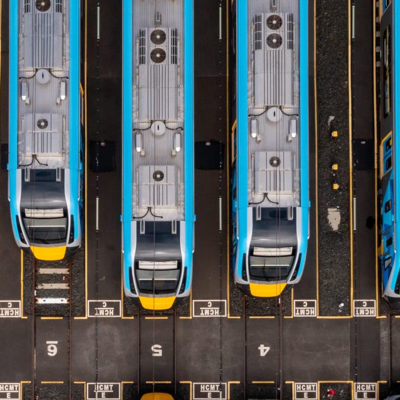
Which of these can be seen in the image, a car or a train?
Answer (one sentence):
Visible in the photo is a train.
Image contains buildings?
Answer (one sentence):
No, I find no building anywhere in the image.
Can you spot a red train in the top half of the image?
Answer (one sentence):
No, there's no red train to be seen in the top half of the image.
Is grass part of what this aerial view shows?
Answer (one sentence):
No, there's no grass in this view.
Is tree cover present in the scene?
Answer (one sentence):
No, there is no tree cover in the image.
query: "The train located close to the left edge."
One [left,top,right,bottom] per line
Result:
[7,0,87,262]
